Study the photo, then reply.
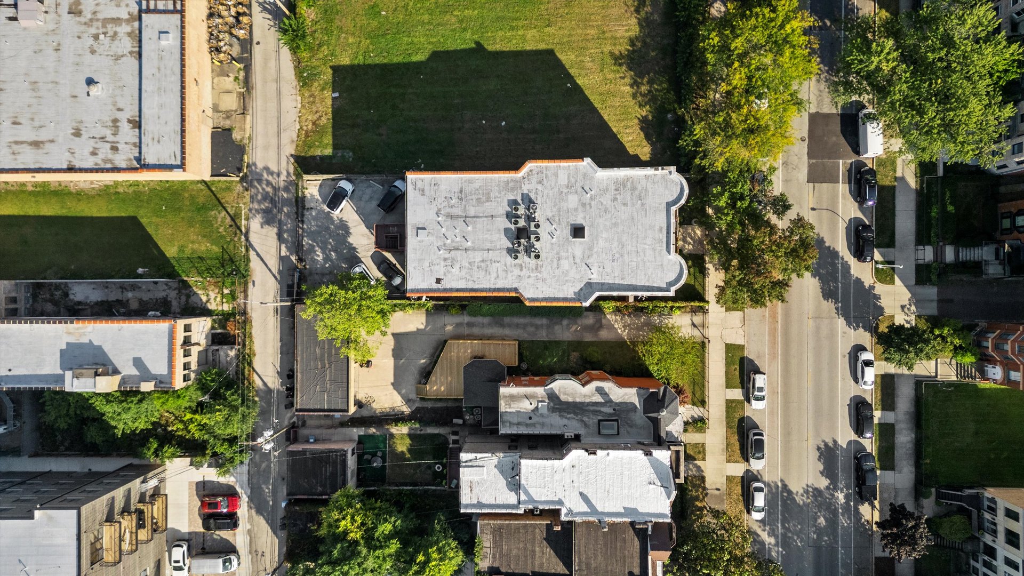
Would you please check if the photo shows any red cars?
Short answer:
Yes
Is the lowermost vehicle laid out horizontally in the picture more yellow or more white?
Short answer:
white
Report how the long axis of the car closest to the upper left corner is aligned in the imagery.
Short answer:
on a diagonal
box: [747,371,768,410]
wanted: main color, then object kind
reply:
white car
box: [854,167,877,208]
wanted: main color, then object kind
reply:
black car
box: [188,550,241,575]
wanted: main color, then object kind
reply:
white vehicle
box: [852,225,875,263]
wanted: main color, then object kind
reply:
black car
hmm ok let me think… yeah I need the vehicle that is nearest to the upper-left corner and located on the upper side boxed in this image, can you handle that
[325,178,356,215]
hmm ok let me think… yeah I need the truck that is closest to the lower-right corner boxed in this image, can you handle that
[852,449,876,500]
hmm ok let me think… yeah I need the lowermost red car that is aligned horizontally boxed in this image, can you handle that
[201,494,242,514]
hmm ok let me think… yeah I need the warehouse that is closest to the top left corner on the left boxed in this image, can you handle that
[0,0,210,181]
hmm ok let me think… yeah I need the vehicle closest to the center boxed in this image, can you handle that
[372,253,405,289]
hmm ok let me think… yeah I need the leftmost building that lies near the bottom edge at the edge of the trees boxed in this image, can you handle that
[0,464,165,576]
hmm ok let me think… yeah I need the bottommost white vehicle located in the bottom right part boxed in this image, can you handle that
[748,480,768,520]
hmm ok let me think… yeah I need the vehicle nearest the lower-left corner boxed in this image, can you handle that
[170,539,192,576]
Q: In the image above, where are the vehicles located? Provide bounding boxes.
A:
[170,539,192,576]
[203,512,241,533]
[852,225,875,263]
[854,350,875,389]
[325,178,356,215]
[854,111,881,158]
[747,371,768,410]
[188,550,241,575]
[853,400,875,439]
[348,256,381,292]
[746,428,768,469]
[852,449,876,500]
[376,177,406,215]
[372,253,405,289]
[854,167,877,208]
[748,480,768,520]
[201,494,242,514]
